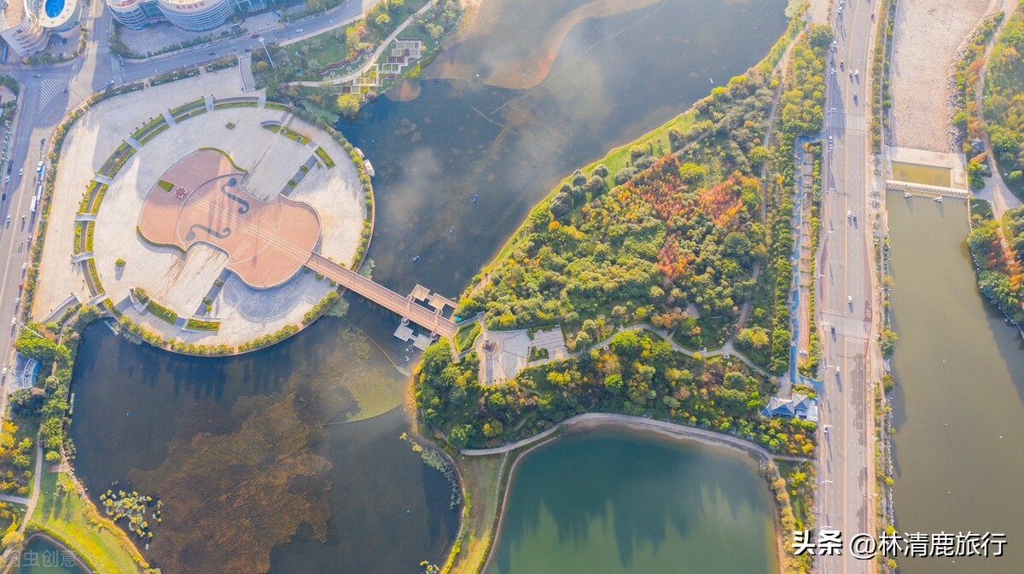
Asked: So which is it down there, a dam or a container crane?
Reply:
dam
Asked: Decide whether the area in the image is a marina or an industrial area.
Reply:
marina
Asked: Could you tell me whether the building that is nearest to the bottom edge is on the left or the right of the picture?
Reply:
right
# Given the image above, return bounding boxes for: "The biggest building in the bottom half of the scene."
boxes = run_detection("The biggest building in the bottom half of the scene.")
[765,391,821,420]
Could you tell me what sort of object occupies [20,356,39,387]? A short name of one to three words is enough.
building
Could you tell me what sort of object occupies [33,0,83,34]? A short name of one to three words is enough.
building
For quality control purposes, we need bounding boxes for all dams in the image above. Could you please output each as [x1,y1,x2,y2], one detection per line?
[886,147,969,204]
